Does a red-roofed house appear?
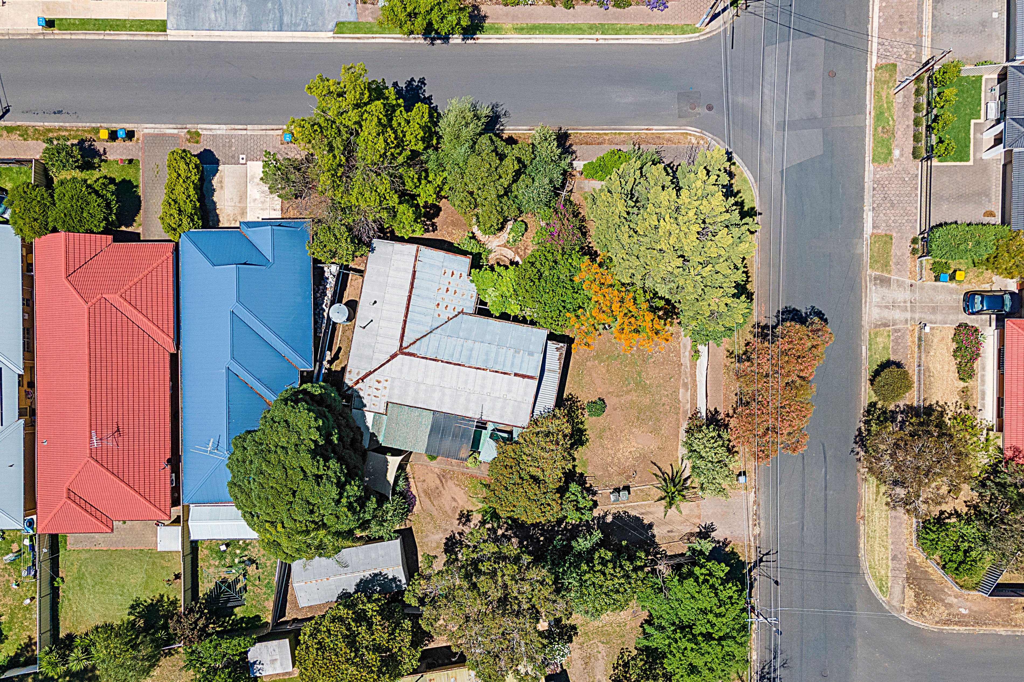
Yes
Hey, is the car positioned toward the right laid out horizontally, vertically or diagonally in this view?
horizontally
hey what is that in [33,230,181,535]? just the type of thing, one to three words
house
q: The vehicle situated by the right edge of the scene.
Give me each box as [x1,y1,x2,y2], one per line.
[957,288,1022,318]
